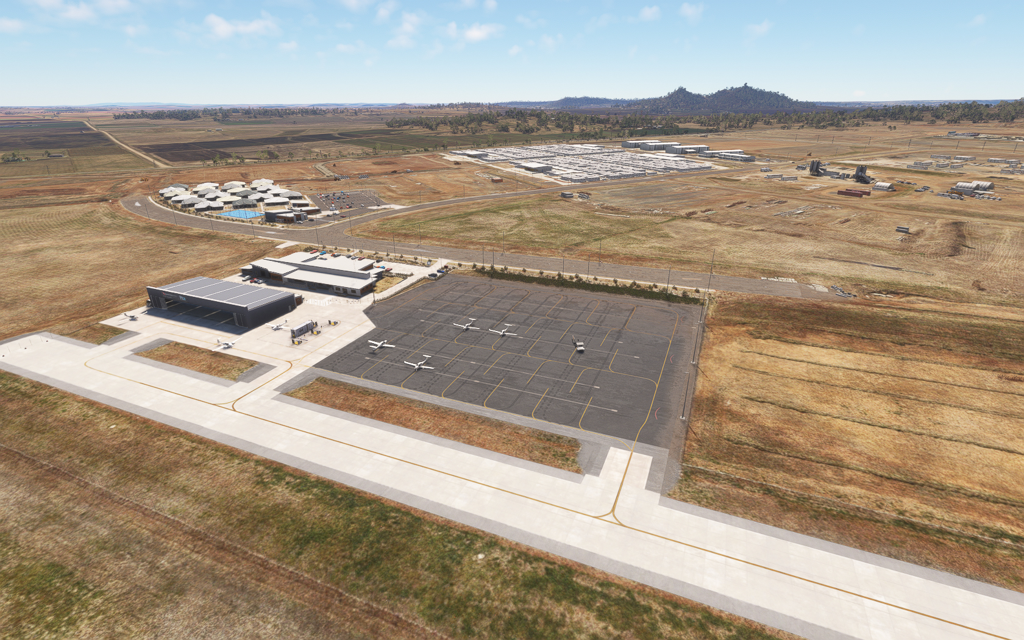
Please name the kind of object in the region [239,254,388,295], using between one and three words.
building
